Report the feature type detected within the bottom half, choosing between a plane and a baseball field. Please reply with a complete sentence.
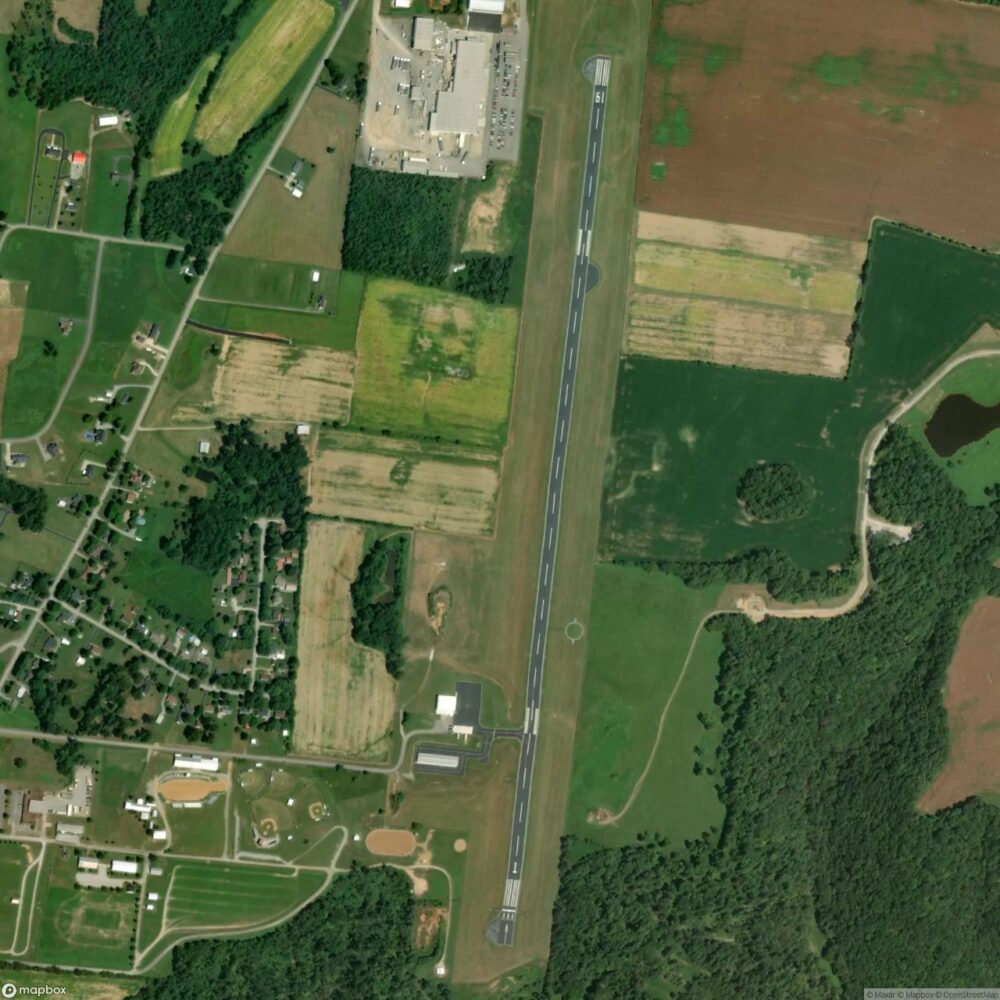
The feature located within the bottom half is a baseball field.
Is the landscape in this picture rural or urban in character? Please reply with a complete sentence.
From above, the setting appears rural.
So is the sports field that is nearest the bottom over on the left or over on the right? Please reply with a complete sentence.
The sports field that is nearest the bottom sits on the left side.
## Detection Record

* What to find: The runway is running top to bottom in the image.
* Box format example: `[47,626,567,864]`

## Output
[485,56,611,944]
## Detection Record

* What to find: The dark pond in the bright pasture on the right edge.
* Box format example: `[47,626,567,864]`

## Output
[925,394,1000,457]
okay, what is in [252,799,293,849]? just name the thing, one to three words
baseball field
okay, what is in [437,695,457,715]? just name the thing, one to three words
hangar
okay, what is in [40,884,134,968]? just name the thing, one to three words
sports field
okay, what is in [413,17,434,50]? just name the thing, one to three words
building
